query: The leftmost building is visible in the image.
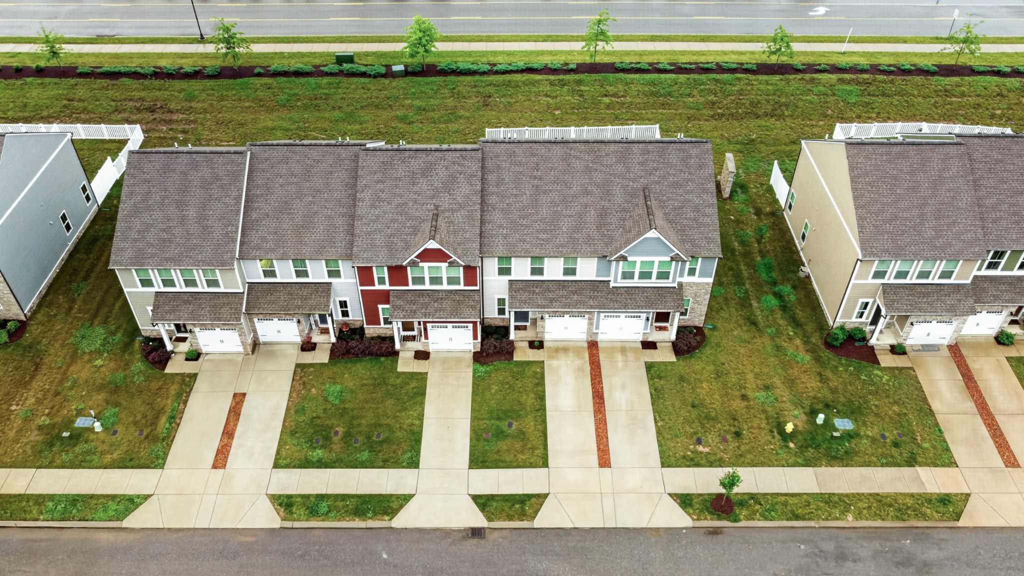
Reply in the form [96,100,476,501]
[0,130,93,320]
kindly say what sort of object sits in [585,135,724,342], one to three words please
house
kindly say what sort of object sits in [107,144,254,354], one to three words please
house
